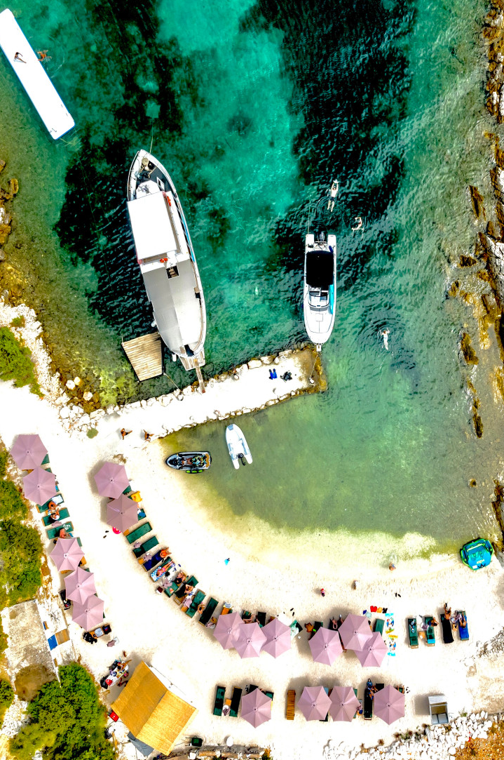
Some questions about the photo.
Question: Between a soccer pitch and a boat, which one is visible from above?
boat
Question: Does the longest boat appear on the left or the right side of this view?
left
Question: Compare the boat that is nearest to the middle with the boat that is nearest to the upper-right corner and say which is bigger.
the boat that is nearest to the upper-right corner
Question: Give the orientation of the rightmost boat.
from top to bottom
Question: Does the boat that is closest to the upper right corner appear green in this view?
No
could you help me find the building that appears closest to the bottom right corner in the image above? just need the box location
[428,695,449,726]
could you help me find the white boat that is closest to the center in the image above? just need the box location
[225,423,251,467]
